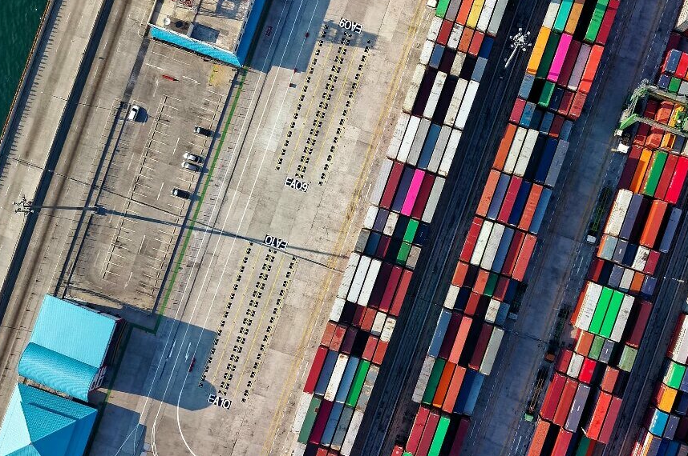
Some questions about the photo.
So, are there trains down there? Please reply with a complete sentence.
No, this view has no train in it.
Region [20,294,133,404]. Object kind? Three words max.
building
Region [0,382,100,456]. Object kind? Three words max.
building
